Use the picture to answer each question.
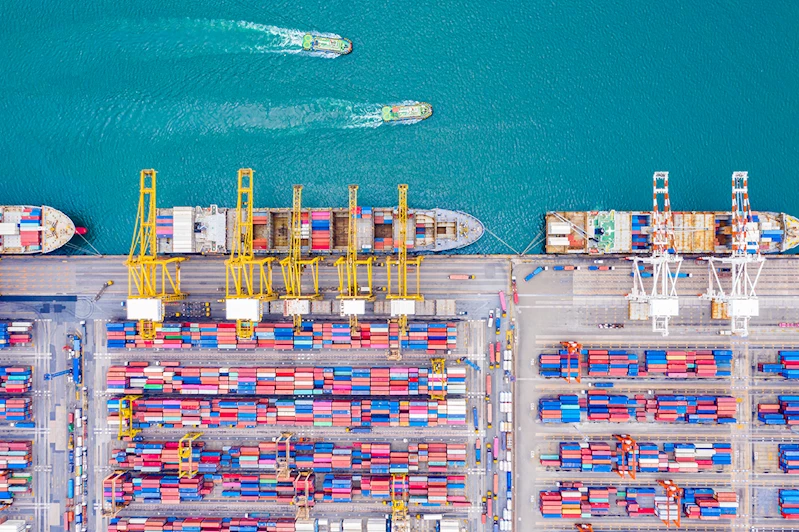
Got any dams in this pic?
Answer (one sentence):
No, I can see no dam in this picture.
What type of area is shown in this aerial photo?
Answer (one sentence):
This image shows a port.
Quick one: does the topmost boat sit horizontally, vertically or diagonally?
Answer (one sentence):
I'd say the topmost boat is aligned horizontally in the picture.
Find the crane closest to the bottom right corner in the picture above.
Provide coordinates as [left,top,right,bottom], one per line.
[649,480,681,530]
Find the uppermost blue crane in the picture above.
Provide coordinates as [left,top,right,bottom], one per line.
[44,335,83,382]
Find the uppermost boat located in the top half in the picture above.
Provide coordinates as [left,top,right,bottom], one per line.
[301,34,353,55]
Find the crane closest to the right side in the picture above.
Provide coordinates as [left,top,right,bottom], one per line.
[693,172,767,337]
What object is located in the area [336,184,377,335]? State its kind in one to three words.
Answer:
container crane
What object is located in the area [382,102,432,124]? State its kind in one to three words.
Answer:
boat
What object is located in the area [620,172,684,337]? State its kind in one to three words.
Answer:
container crane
